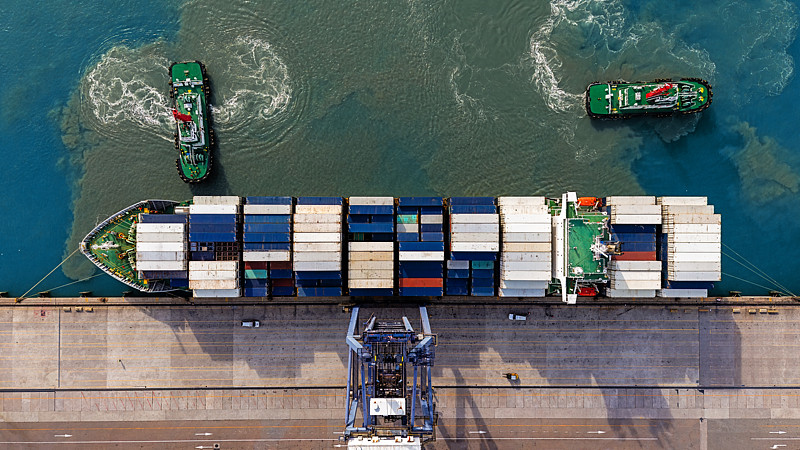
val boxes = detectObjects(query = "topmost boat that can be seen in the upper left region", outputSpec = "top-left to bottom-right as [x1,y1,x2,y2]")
[168,58,214,184]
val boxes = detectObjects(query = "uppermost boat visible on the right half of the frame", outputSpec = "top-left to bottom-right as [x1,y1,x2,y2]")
[585,77,712,120]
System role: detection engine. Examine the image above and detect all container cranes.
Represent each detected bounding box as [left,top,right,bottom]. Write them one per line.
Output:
[339,305,445,450]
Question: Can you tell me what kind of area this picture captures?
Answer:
port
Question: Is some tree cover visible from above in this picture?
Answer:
No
